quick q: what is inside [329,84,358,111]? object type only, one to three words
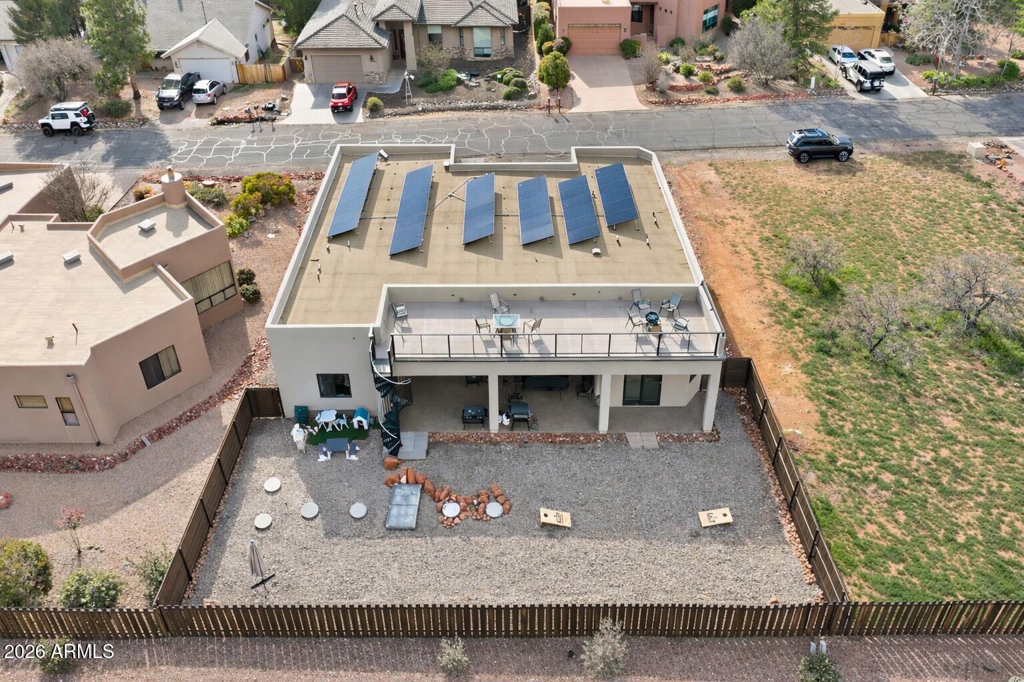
car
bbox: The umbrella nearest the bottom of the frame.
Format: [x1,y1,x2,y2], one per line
[247,538,278,588]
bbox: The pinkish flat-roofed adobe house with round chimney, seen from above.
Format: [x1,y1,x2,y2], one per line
[0,162,243,449]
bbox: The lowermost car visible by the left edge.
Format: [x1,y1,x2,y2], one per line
[34,106,95,136]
